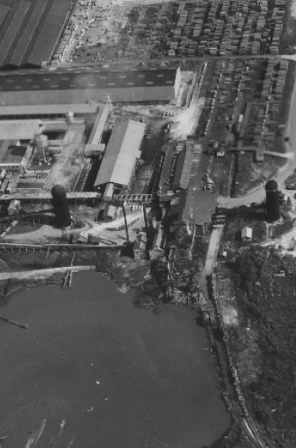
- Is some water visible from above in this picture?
Yes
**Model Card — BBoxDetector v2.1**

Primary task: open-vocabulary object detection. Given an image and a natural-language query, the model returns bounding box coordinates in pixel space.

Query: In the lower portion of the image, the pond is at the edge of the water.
[0,274,233,448]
